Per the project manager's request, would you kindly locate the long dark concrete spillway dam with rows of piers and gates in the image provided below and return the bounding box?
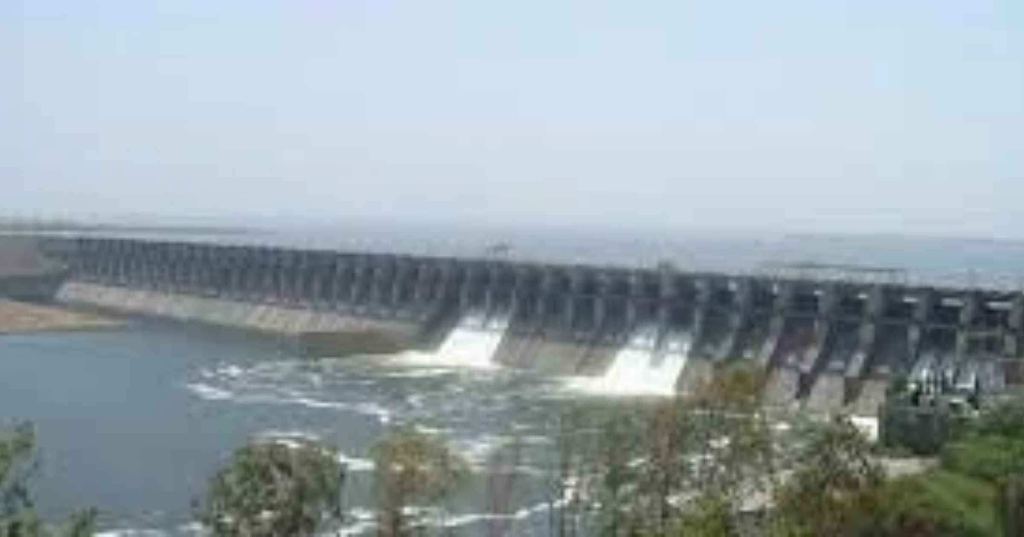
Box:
[35,239,1024,420]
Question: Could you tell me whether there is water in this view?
Yes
